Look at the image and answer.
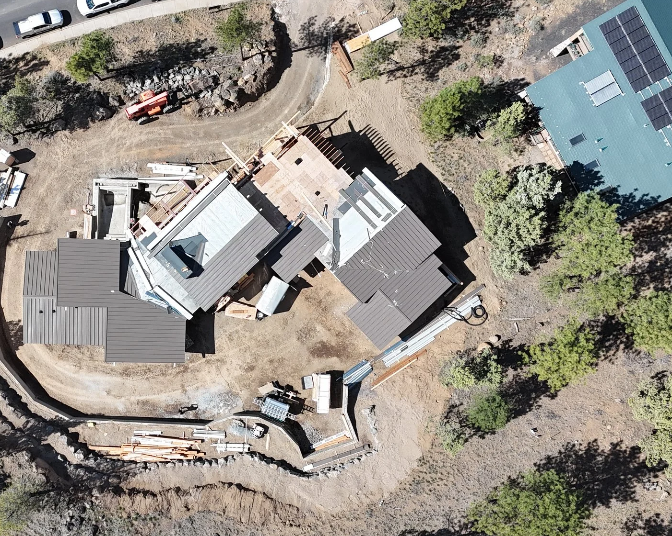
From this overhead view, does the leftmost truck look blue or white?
white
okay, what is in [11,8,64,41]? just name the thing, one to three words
truck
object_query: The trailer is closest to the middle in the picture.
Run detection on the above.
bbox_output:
[255,275,297,319]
